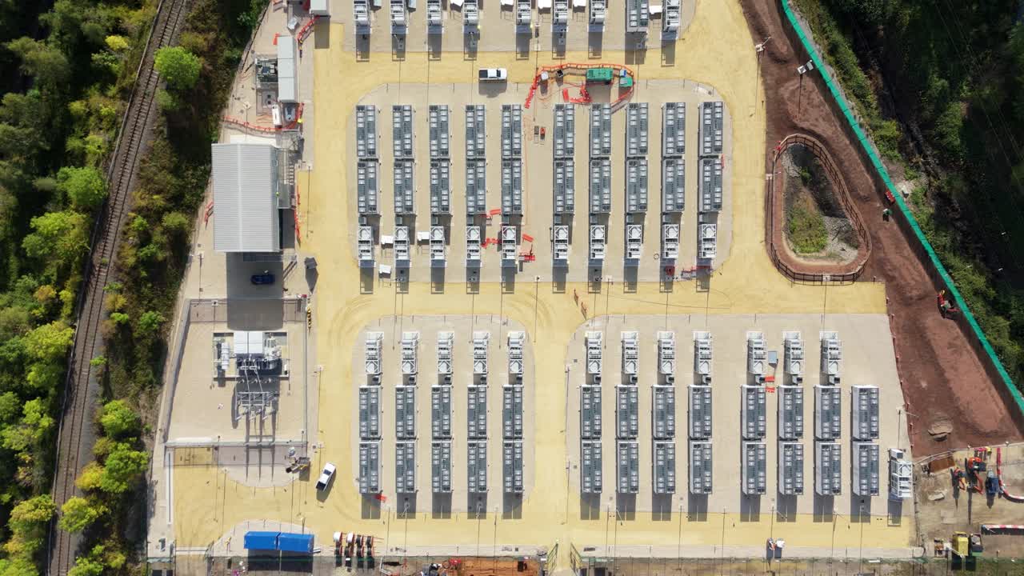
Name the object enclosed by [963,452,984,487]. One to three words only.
work vehicle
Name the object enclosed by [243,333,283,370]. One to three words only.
storage tank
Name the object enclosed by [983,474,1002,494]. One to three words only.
vehicle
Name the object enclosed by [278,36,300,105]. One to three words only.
building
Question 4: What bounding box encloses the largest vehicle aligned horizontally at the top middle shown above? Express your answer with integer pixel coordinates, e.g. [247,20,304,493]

[478,66,508,80]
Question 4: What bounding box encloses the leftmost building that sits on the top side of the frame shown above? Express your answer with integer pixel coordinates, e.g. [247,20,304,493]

[211,143,283,252]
